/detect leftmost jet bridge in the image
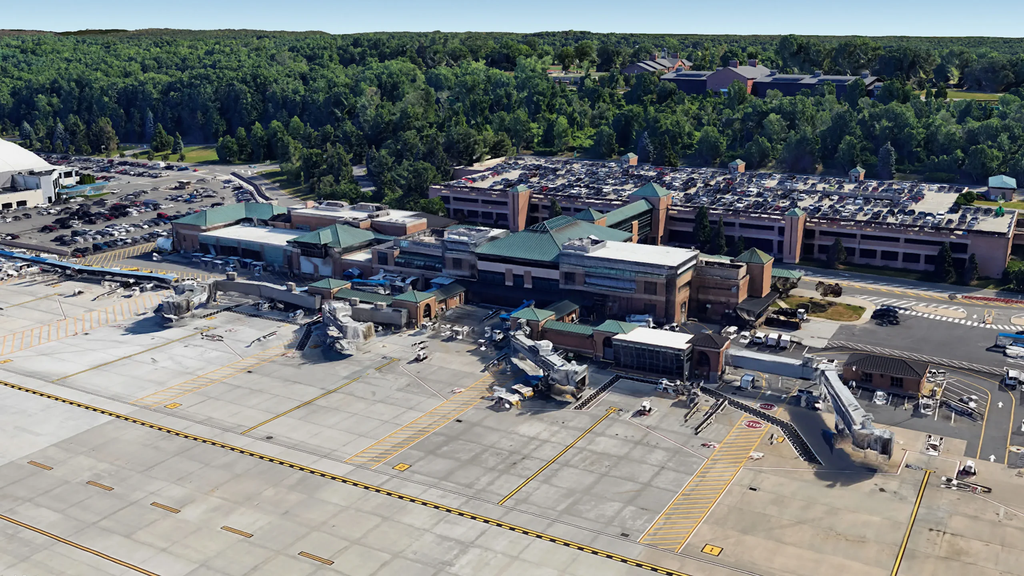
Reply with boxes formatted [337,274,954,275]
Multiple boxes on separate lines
[156,273,335,316]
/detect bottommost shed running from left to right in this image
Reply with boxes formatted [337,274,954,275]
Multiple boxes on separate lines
[842,350,931,396]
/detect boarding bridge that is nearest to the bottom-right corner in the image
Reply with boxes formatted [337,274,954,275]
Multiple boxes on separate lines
[724,346,888,452]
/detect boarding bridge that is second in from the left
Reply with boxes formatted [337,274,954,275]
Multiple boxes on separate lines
[332,295,407,345]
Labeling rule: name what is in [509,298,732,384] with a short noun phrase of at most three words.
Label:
building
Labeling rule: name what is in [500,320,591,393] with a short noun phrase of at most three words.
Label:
jet bridge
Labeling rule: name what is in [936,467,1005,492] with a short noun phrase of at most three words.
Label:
work vehicle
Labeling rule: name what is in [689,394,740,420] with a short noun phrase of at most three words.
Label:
work vehicle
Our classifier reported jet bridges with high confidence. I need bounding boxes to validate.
[332,295,407,345]
[500,320,591,393]
[724,346,888,452]
[156,273,335,316]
